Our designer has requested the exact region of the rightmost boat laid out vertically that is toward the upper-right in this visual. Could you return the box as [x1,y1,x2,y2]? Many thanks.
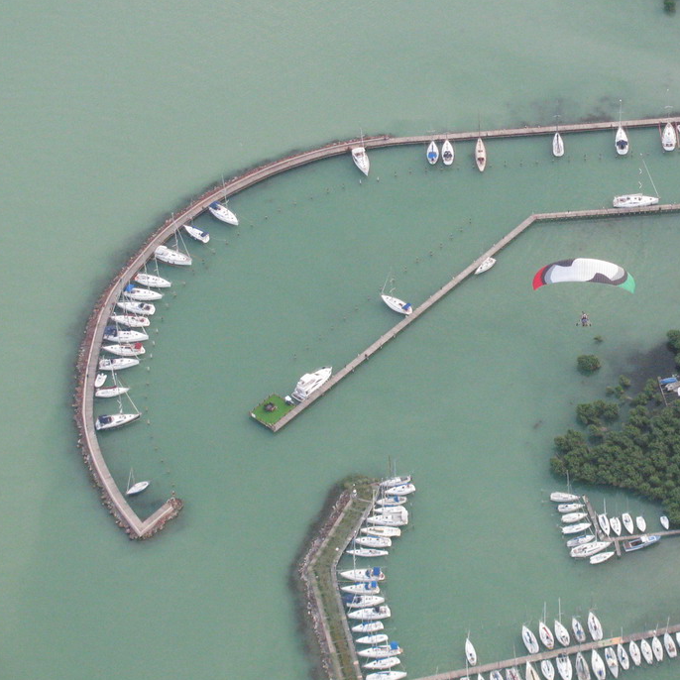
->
[661,100,677,152]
